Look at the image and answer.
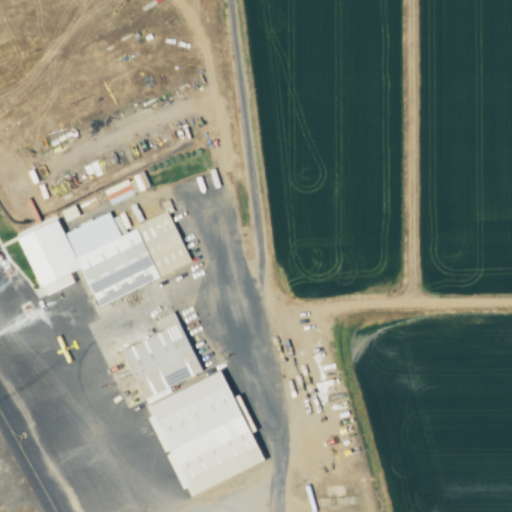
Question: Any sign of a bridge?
No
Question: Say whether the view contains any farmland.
Yes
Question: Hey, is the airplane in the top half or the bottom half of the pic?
bottom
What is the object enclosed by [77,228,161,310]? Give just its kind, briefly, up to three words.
hangar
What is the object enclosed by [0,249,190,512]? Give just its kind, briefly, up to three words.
airport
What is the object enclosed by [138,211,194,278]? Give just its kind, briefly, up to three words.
hangar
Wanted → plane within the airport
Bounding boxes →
[56,336,77,364]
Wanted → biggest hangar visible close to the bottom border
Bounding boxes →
[145,368,267,500]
